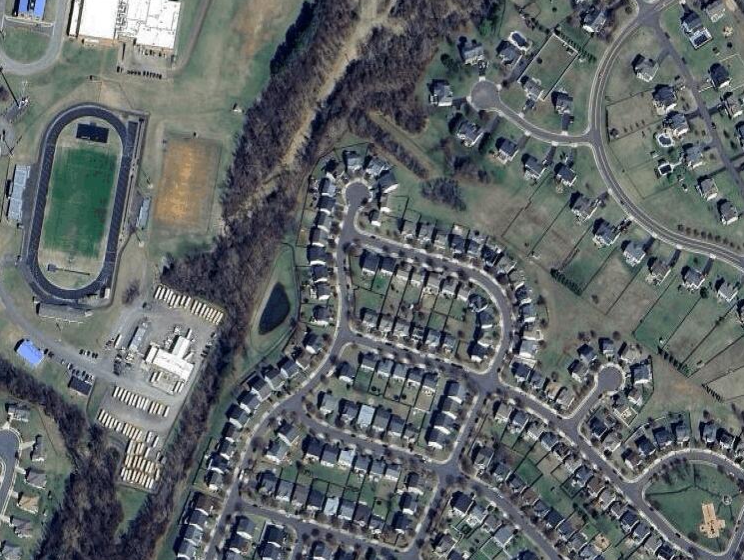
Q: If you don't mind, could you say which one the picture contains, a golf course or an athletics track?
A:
athletics track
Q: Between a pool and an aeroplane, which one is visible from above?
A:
pool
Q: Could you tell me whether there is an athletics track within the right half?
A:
No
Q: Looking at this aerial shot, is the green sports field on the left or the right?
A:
left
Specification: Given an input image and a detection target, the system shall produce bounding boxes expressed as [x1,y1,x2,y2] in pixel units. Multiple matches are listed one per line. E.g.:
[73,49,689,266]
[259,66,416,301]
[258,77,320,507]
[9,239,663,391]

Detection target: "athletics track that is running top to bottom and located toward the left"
[24,107,135,299]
